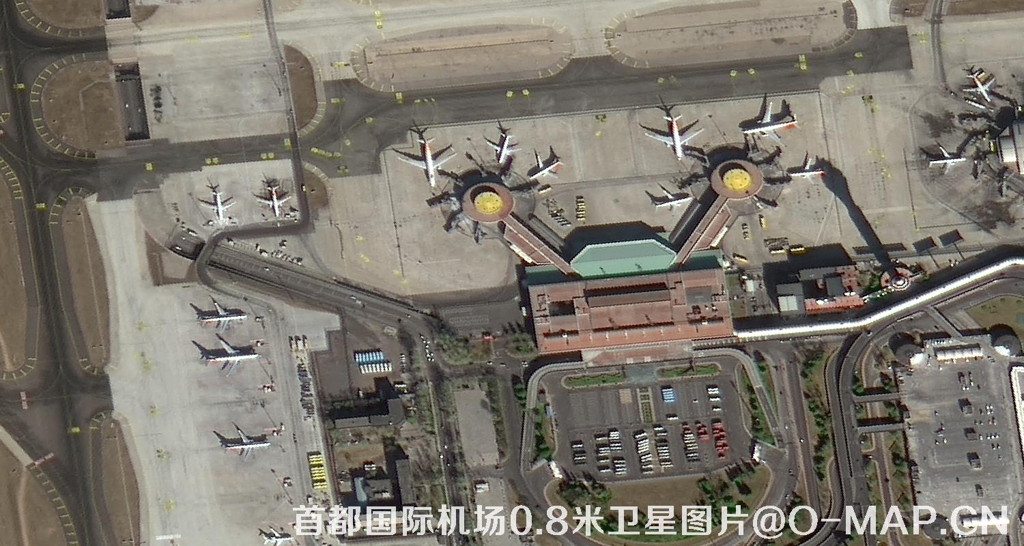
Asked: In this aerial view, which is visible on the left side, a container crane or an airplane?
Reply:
airplane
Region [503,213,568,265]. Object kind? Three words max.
building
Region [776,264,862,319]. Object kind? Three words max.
building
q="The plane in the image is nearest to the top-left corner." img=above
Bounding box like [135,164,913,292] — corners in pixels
[200,190,235,221]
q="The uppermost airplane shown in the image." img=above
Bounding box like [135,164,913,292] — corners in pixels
[963,71,998,102]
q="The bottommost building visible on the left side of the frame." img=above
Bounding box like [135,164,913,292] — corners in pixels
[360,506,438,527]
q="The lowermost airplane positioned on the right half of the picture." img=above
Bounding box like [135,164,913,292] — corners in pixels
[655,190,692,215]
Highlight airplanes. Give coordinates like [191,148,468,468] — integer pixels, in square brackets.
[264,529,294,546]
[397,135,458,186]
[655,190,692,215]
[929,148,966,174]
[200,190,235,221]
[222,429,270,463]
[485,131,522,164]
[199,302,248,335]
[963,71,998,102]
[207,341,259,377]
[742,105,799,145]
[530,157,566,180]
[256,185,293,218]
[789,160,824,185]
[647,113,702,160]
